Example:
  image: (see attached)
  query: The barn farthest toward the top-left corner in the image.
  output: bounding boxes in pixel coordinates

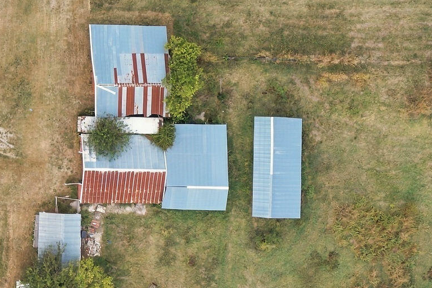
[89,24,171,117]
